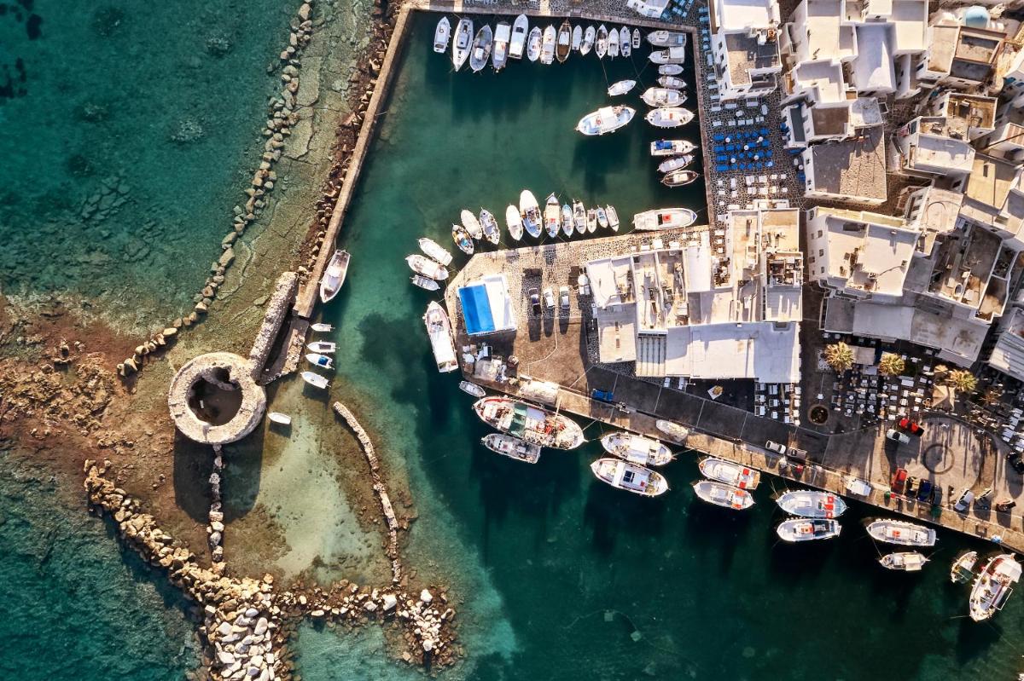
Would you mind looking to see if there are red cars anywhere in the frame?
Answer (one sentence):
Yes, there's a red car down there.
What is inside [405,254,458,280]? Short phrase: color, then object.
white boat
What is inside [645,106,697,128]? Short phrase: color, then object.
white boat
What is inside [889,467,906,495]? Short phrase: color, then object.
red car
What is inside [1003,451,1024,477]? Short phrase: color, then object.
black car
